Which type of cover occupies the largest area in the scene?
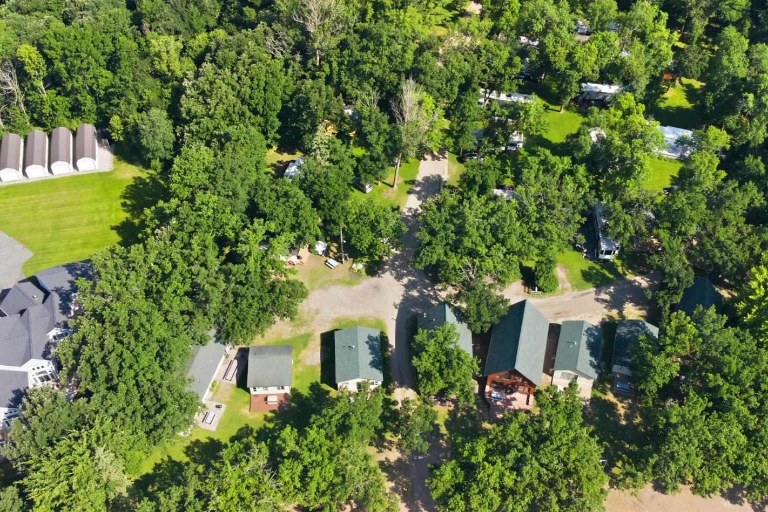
trees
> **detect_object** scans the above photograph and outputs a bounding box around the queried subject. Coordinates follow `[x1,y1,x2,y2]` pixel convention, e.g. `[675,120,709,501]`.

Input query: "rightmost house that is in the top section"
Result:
[654,126,692,169]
